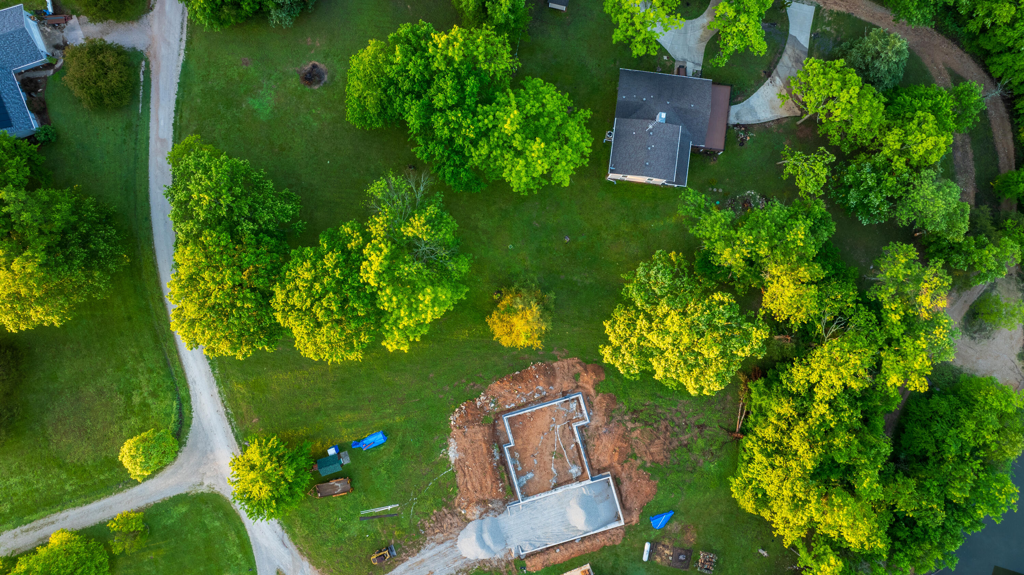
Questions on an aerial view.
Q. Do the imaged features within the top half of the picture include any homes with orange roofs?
No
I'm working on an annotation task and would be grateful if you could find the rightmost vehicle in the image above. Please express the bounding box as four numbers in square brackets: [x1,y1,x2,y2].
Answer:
[371,544,398,565]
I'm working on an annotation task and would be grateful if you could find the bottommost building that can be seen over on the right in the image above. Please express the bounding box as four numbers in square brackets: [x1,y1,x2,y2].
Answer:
[594,68,733,187]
